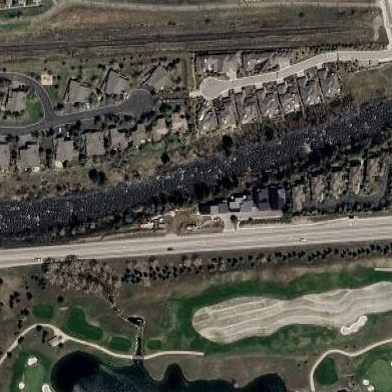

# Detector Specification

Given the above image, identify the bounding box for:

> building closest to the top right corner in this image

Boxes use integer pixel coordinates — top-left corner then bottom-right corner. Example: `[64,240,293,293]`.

[319,71,342,96]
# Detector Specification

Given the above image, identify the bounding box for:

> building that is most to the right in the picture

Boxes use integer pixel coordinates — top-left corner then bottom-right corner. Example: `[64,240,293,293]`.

[364,159,384,186]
